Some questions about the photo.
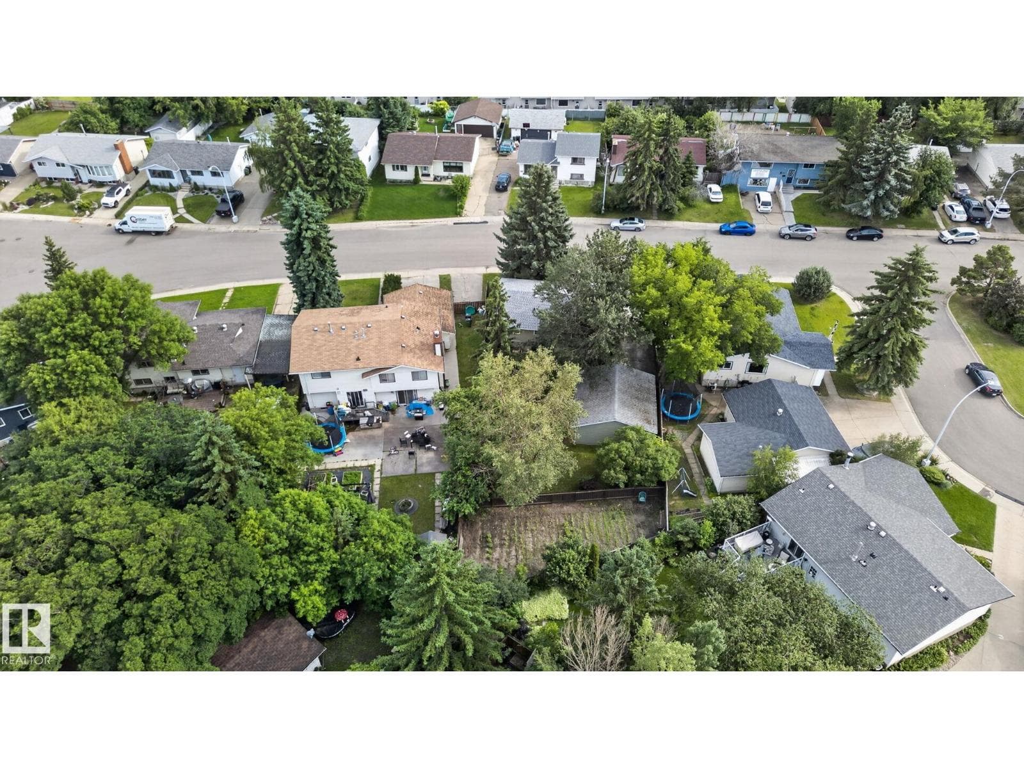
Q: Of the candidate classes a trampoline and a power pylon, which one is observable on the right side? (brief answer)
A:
trampoline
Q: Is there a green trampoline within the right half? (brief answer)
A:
No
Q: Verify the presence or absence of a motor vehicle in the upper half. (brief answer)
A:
Yes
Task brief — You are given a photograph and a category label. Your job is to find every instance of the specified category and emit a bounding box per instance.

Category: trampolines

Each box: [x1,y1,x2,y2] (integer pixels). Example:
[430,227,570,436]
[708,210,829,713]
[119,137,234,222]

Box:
[318,606,365,656]
[660,379,704,427]
[303,412,350,461]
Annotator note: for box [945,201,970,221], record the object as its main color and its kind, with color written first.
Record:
white car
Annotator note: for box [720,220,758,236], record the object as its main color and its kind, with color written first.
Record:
blue car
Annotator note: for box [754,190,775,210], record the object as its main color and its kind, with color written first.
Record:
white car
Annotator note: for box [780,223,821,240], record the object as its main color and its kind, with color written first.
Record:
gray car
